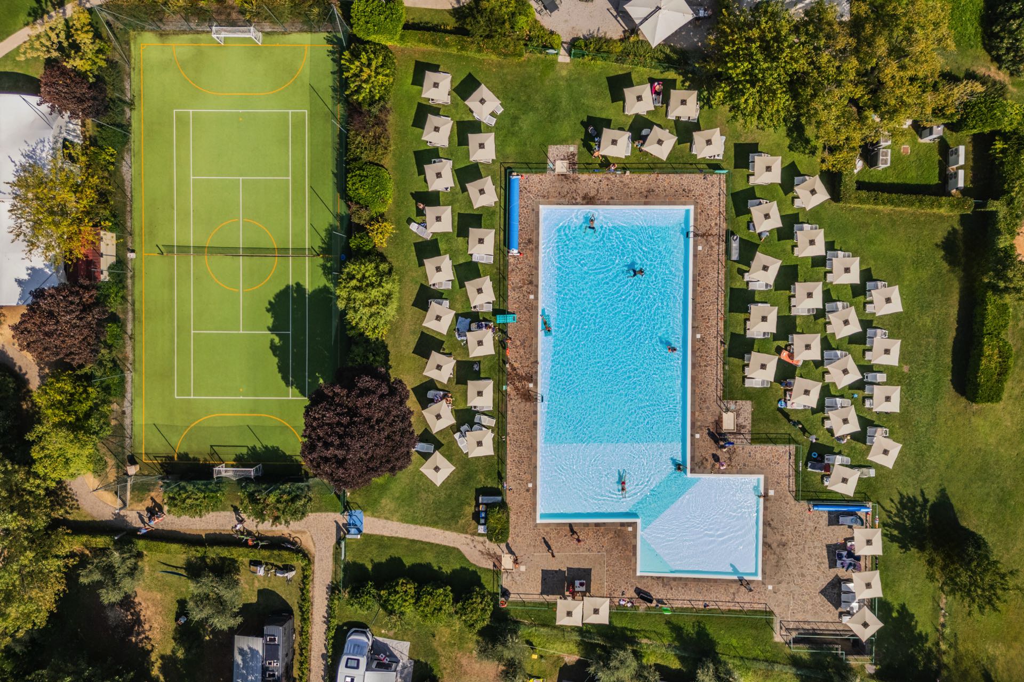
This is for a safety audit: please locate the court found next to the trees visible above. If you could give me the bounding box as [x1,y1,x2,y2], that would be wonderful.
[131,31,350,477]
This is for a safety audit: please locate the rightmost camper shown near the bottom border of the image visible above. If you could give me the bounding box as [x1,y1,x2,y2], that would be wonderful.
[337,618,377,682]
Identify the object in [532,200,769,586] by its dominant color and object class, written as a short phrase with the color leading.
blue swimming pool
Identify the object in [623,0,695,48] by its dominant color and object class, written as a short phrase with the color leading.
white umbrella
